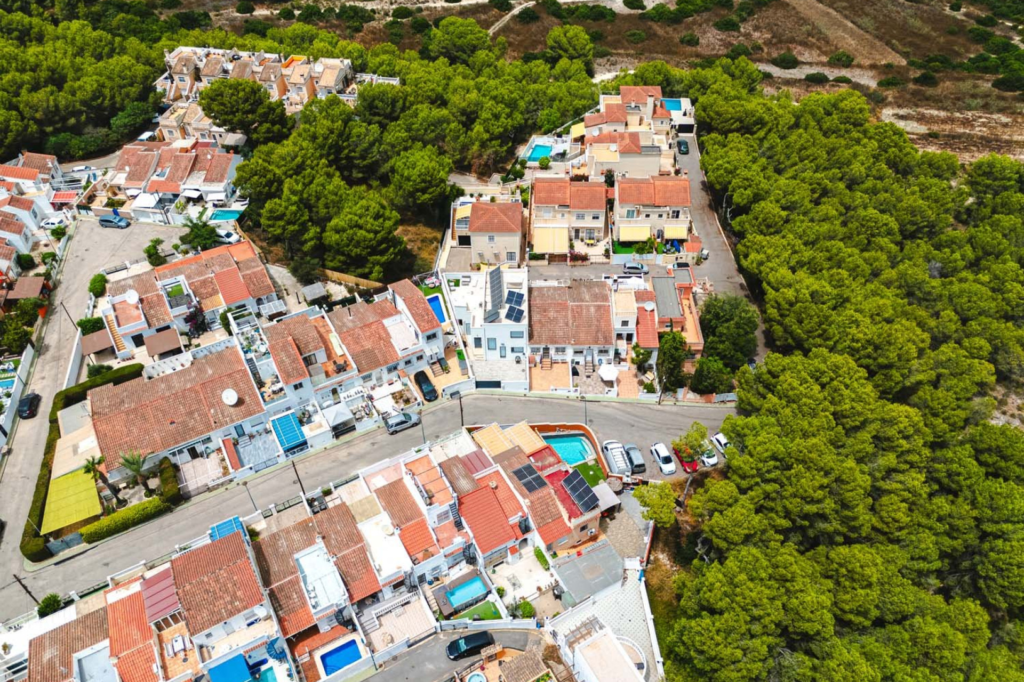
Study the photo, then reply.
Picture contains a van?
Yes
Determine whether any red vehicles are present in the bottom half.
Yes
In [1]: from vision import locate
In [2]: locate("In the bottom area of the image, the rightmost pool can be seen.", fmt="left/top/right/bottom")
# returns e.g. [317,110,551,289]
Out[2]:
[540,434,597,470]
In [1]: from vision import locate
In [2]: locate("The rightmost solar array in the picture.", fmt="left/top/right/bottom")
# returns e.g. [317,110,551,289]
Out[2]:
[561,469,600,518]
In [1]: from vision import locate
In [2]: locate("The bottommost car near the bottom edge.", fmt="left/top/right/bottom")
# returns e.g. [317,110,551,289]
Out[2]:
[447,625,497,660]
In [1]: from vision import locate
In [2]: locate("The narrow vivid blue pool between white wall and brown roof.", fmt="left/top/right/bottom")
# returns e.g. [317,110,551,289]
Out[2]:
[426,293,450,326]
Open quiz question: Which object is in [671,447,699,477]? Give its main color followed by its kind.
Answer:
red car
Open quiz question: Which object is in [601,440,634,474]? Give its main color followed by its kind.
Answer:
white van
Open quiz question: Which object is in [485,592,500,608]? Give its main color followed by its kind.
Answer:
white umbrella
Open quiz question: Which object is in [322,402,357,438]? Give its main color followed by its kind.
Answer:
white gazebo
